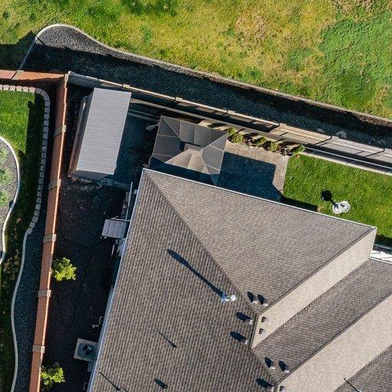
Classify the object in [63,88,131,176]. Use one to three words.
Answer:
shed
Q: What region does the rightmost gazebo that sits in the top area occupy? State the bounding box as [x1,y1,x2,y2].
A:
[136,114,229,186]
